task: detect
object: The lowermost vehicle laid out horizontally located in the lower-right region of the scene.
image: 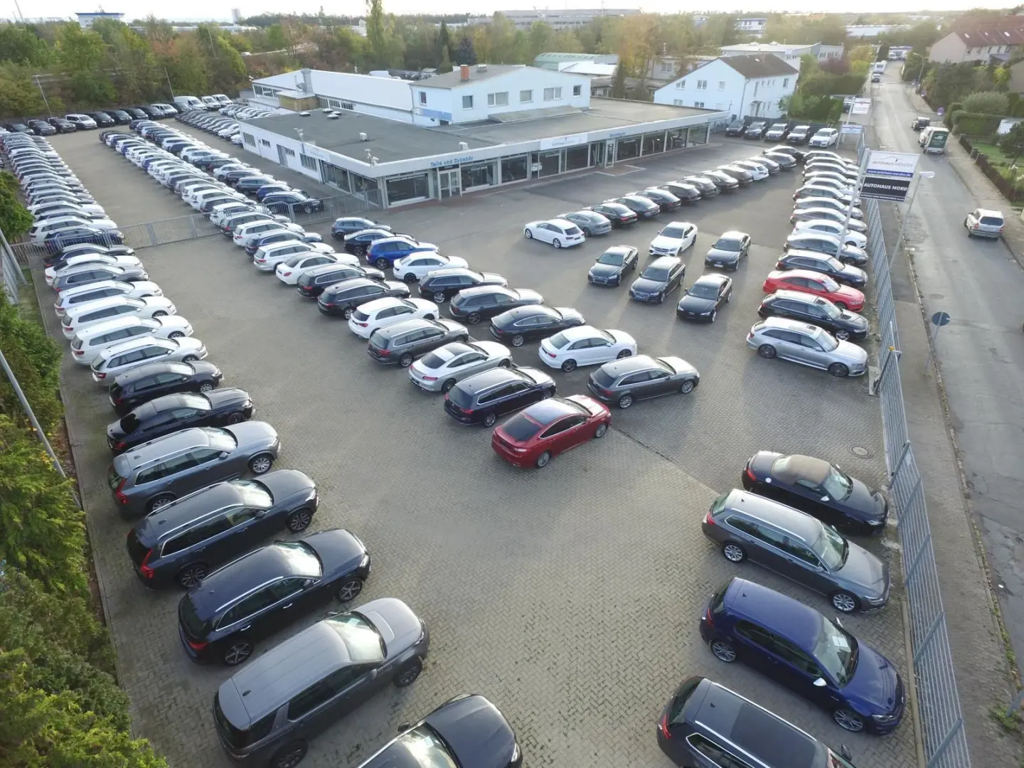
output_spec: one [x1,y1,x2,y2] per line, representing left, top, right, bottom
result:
[652,675,853,768]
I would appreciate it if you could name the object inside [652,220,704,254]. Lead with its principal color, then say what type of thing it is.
white car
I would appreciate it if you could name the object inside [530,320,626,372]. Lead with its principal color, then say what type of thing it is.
white car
